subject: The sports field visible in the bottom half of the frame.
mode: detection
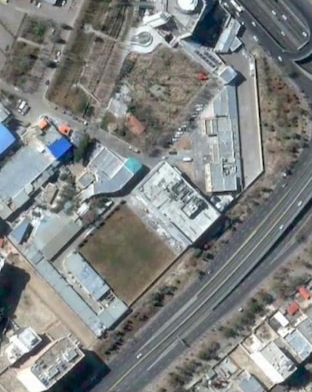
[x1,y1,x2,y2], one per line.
[80,206,174,303]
